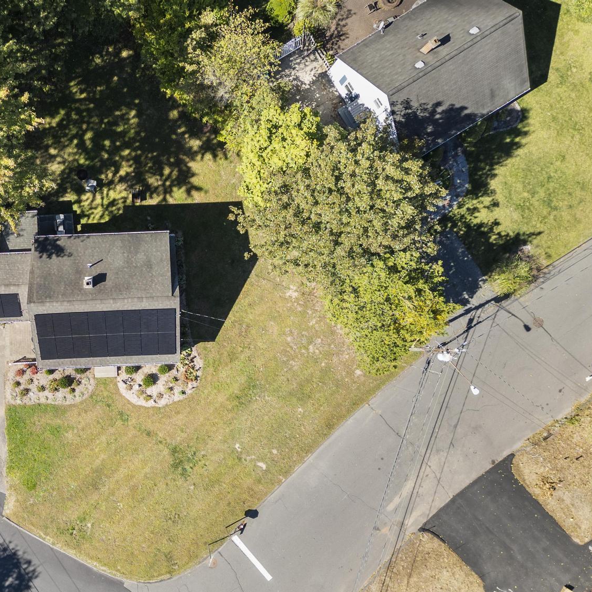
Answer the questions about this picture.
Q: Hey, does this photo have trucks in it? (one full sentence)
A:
No, there's no truck here.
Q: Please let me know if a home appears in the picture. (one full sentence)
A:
Yes, I can see a home in this picture.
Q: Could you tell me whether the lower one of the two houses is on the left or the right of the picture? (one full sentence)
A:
The lower one of the two houses appears in the left half of the scene.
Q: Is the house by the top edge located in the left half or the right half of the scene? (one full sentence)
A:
The house by the top edge is on the right side of the image.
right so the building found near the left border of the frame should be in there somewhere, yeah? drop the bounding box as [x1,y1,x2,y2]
[0,211,181,370]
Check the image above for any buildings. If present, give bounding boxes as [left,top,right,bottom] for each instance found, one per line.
[0,211,181,370]
[328,0,532,170]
